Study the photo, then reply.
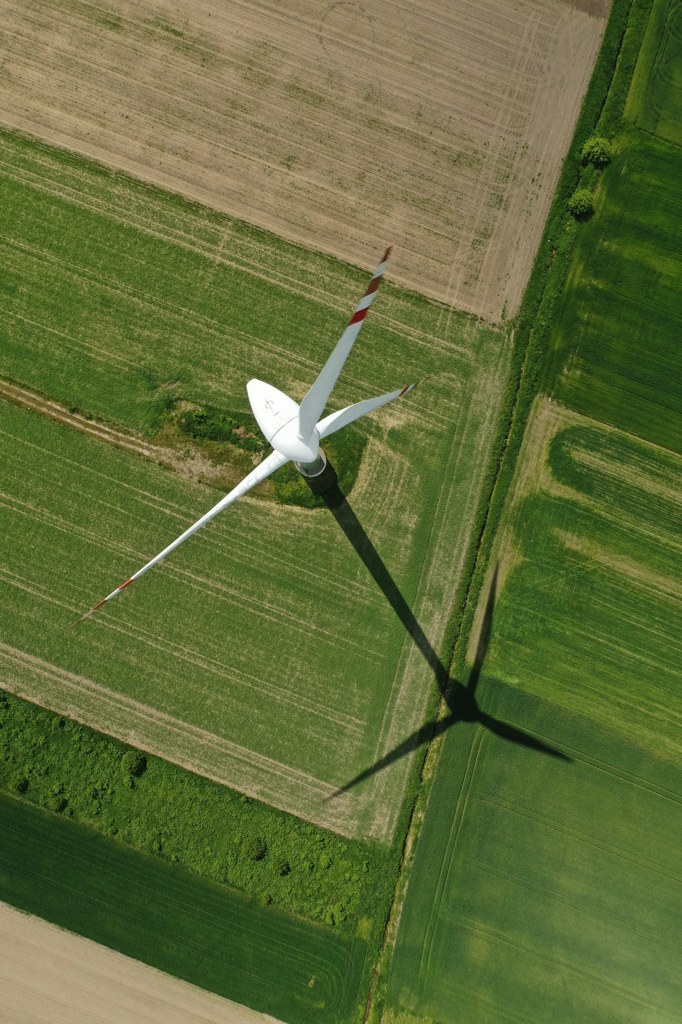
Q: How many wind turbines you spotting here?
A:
1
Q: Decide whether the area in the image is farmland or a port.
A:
farmland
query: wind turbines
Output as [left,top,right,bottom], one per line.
[70,244,431,628]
